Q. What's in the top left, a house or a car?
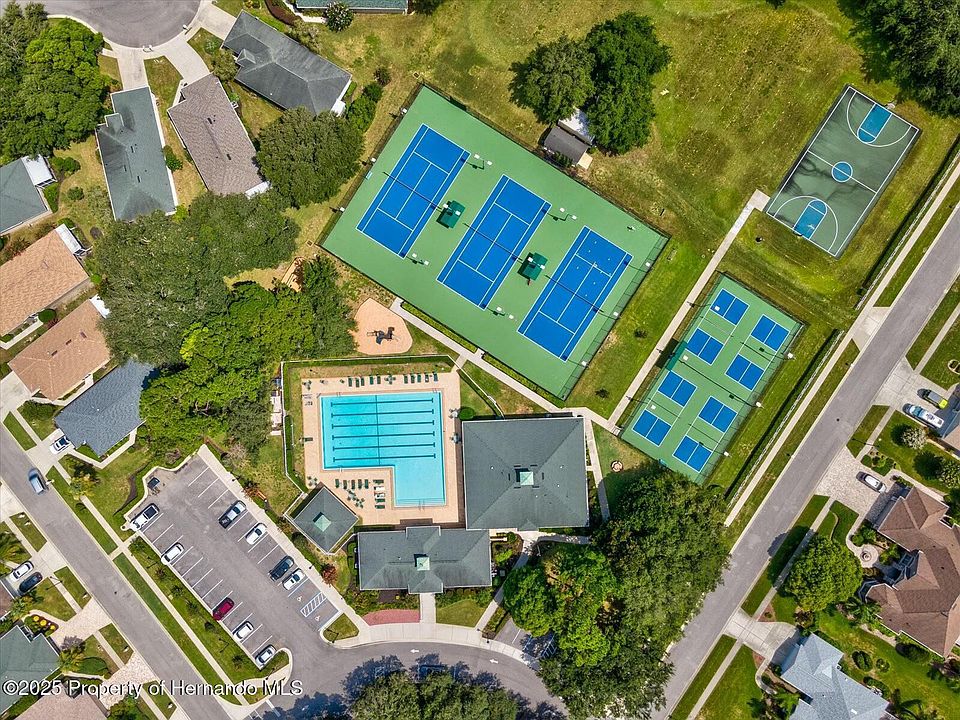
house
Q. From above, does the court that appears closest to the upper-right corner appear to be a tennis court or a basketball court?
basketball court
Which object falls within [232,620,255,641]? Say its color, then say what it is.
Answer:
white car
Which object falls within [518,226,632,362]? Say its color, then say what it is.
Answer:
blue tennis court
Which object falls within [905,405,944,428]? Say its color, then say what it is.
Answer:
white vehicle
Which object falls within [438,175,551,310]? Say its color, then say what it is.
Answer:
blue tennis court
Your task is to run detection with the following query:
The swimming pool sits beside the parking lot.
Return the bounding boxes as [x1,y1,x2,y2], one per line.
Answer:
[318,388,448,509]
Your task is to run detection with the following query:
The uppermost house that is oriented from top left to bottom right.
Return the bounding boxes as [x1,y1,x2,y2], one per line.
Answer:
[222,9,352,121]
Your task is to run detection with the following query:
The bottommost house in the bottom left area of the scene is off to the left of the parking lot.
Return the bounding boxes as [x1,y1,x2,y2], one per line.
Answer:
[12,679,108,720]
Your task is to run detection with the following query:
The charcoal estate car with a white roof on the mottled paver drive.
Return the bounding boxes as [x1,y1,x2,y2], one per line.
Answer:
[860,472,885,491]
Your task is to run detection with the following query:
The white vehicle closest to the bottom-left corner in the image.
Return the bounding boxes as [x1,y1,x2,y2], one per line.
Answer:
[11,559,36,580]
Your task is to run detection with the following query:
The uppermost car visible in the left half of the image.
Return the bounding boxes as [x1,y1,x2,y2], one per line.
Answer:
[50,435,71,454]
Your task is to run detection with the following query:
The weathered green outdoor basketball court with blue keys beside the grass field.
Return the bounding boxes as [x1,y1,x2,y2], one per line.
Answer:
[760,81,925,262]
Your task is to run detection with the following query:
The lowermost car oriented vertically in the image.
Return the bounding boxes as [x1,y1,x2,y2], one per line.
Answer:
[425,655,437,681]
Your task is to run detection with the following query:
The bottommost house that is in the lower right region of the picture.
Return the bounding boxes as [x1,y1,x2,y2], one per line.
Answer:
[774,632,888,720]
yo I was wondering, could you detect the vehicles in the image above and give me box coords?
[860,472,885,491]
[905,405,944,428]
[213,597,234,620]
[11,559,36,580]
[425,655,437,681]
[219,502,247,528]
[268,555,294,581]
[282,568,306,591]
[21,571,45,592]
[245,523,268,545]
[131,503,160,531]
[162,542,186,563]
[232,620,255,641]
[27,469,49,495]
[920,390,944,408]
[255,645,277,667]
[50,435,71,454]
